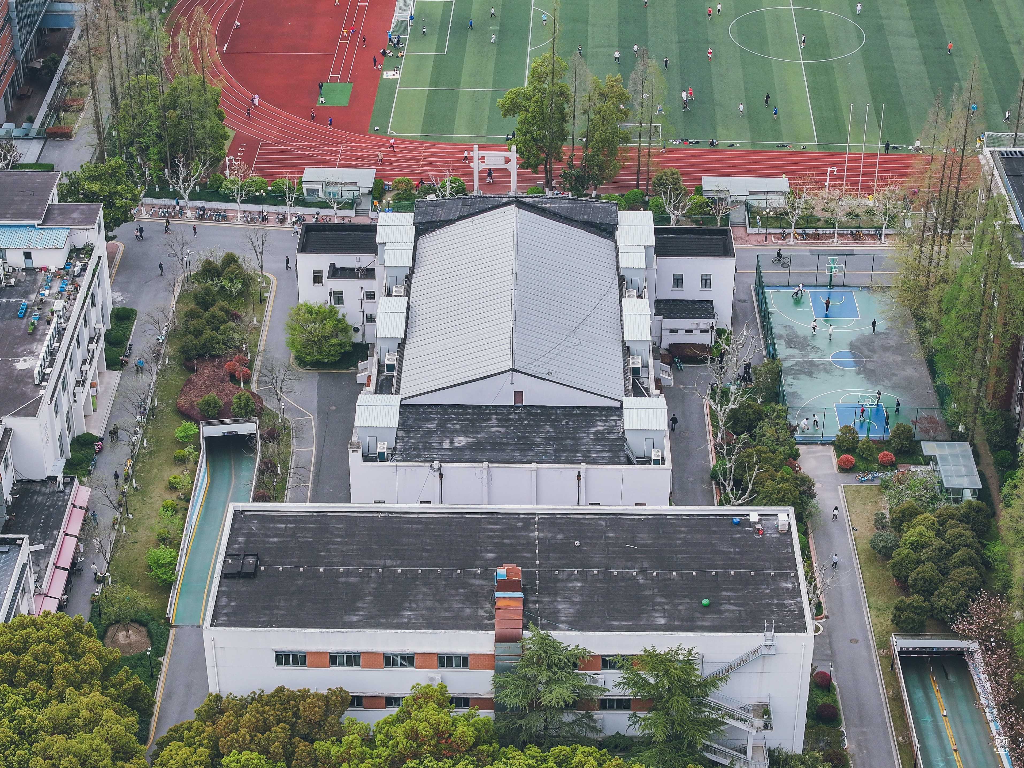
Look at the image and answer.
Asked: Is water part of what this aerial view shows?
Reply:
No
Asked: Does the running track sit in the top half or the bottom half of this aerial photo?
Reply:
top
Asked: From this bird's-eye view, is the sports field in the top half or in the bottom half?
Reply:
top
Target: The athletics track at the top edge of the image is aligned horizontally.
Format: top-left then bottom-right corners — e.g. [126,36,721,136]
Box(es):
[152,0,984,196]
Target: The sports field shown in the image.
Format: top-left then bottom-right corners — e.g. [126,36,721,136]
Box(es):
[127,0,995,228]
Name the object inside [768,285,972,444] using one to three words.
sports court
